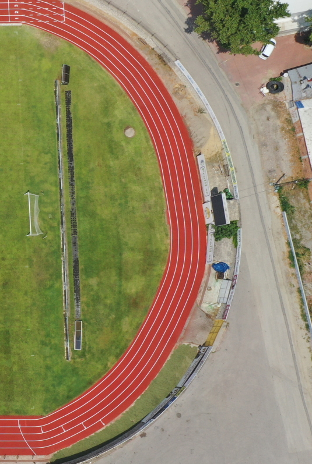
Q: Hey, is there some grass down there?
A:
Yes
